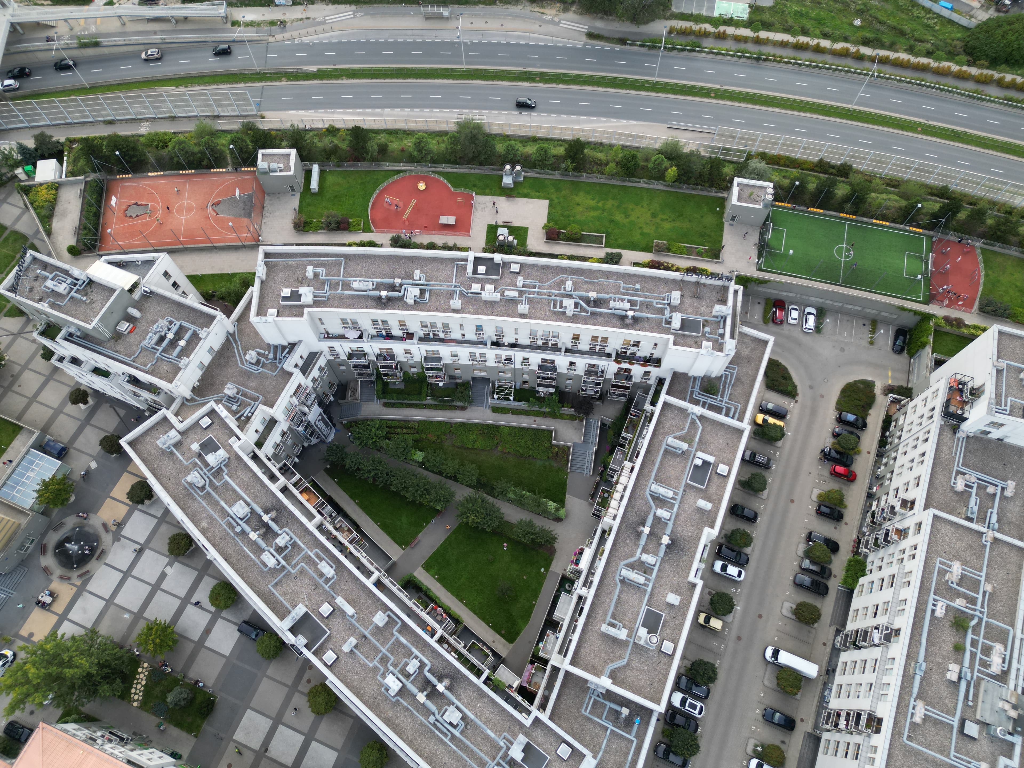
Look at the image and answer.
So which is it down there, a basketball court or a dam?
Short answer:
basketball court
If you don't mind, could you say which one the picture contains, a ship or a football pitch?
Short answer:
football pitch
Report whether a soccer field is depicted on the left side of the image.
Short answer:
No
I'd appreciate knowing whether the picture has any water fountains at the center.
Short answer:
No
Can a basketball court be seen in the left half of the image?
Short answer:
Yes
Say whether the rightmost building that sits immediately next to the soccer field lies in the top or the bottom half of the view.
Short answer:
bottom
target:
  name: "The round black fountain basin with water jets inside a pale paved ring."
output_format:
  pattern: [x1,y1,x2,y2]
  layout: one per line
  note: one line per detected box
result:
[52,524,100,571]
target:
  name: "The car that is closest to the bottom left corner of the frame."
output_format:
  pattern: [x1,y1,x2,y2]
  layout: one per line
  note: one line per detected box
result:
[2,720,33,743]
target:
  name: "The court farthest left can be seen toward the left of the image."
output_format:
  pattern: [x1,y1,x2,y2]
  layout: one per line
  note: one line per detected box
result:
[98,171,266,251]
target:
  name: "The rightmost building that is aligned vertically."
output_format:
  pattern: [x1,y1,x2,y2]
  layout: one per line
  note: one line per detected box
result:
[816,324,1024,768]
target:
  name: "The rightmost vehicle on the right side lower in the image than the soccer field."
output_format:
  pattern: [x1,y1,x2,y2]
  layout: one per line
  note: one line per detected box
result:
[892,328,907,355]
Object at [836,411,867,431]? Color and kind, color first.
black car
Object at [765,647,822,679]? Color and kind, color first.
white van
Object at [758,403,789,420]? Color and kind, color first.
black car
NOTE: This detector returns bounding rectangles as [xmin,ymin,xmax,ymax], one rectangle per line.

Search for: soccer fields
[757,207,932,304]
